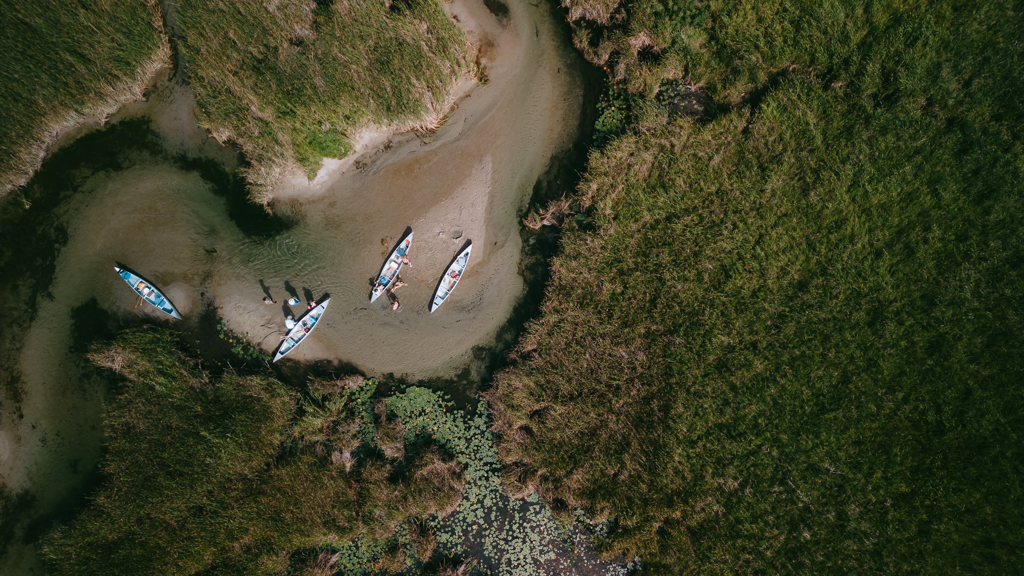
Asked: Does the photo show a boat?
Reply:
Yes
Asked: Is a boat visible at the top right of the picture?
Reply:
No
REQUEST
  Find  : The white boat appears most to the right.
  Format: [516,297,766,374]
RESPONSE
[430,244,472,312]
